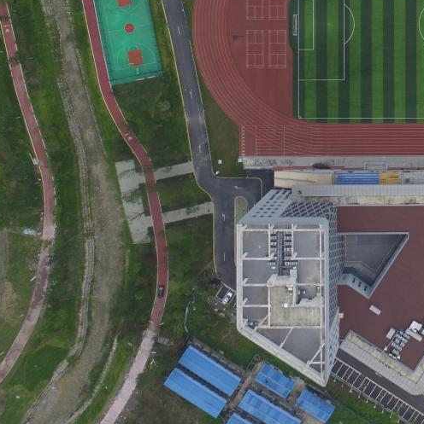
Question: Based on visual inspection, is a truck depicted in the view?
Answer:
No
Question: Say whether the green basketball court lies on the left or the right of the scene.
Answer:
left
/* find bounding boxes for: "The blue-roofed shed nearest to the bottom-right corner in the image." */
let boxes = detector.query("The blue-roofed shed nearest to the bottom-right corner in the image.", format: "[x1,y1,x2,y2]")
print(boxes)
[296,384,335,423]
